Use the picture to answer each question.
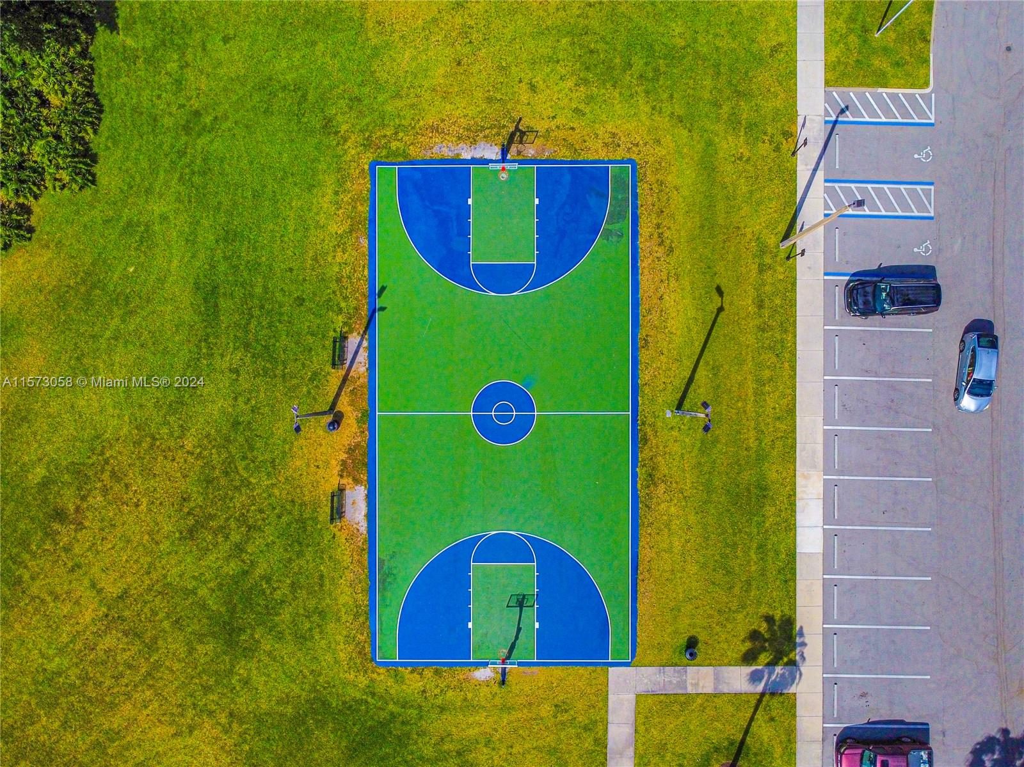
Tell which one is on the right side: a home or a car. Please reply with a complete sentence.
What appears on the right side is a car.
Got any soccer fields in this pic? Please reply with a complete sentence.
No, I can't see a single soccer field in this photo.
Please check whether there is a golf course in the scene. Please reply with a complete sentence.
No, the picture doesn't show any golf course.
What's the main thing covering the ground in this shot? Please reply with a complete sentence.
The bulk of the photo consists of grass.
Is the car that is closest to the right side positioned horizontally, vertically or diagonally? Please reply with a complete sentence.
Seen from above, the car that is closest to the right side lies vertically.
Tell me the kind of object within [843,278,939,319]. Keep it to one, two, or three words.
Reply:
car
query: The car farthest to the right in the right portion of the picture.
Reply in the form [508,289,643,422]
[955,332,999,412]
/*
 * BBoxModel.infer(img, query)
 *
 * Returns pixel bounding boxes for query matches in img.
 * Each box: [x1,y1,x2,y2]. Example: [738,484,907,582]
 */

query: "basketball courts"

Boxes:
[367,157,640,667]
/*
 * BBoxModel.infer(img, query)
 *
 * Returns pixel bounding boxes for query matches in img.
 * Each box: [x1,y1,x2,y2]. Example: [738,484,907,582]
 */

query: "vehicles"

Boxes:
[843,278,939,319]
[833,738,933,767]
[955,332,999,412]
